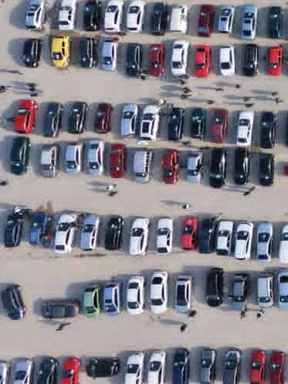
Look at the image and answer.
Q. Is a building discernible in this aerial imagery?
No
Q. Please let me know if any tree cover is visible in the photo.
No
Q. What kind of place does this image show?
parking lot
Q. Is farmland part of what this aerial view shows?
No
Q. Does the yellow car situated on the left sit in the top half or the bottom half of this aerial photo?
top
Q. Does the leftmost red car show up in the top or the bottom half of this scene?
top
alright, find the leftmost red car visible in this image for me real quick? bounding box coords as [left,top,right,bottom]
[15,101,38,132]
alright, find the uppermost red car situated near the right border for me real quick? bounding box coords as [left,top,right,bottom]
[267,44,284,78]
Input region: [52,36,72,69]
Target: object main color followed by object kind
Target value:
yellow car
